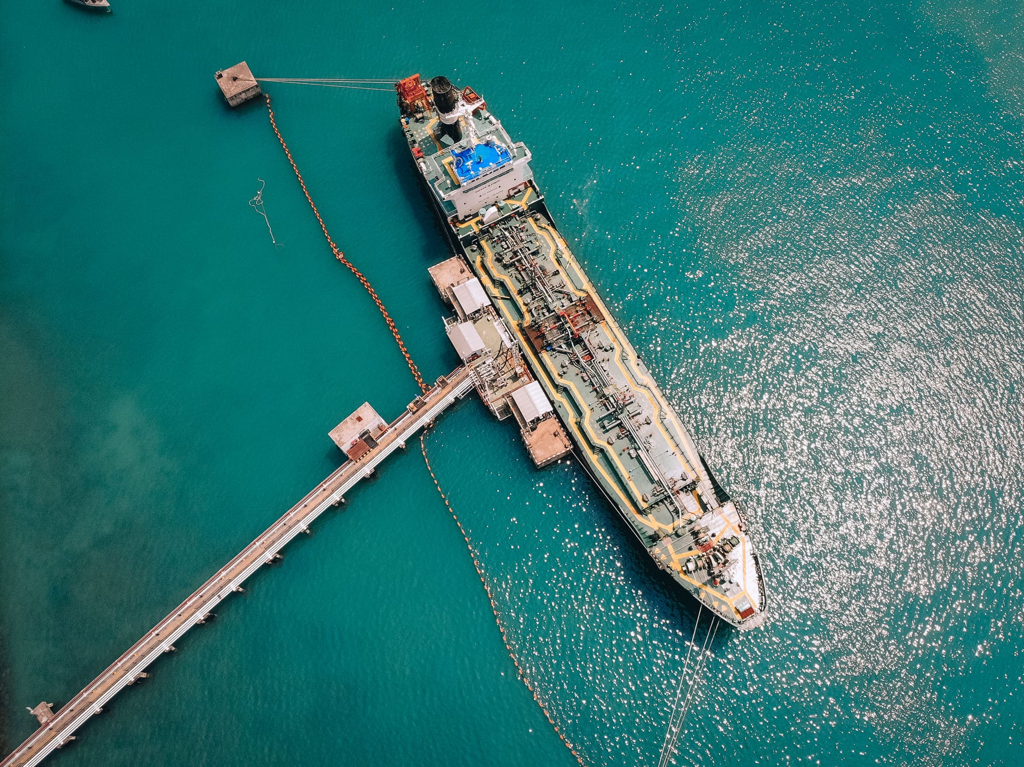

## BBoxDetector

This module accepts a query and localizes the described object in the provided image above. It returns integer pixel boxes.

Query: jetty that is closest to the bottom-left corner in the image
[0,358,495,767]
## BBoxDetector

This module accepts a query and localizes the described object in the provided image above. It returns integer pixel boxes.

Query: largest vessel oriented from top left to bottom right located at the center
[394,66,769,639]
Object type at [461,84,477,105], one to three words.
boat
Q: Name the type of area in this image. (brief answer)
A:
port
